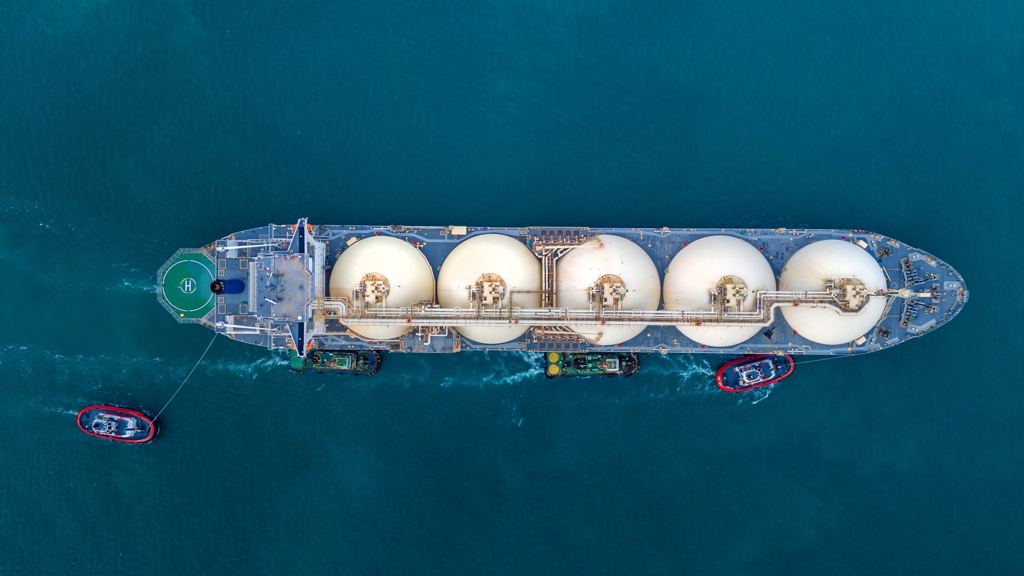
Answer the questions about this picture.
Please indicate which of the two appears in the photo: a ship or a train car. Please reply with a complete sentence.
The one in the frame is a ship.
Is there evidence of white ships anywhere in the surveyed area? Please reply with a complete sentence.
Yes, the image includes a white ship.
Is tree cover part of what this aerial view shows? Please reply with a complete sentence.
No, the scene doesn't show any tree cover.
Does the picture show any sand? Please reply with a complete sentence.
No, there's no sand in this view.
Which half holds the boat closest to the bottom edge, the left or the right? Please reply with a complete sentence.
You can find the boat closest to the bottom edge on the left side of the picture.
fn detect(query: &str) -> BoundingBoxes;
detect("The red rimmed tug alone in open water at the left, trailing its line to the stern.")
[77,407,160,441]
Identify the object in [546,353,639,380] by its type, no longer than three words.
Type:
boat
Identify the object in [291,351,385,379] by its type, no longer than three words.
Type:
boat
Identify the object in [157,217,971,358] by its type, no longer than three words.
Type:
ship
